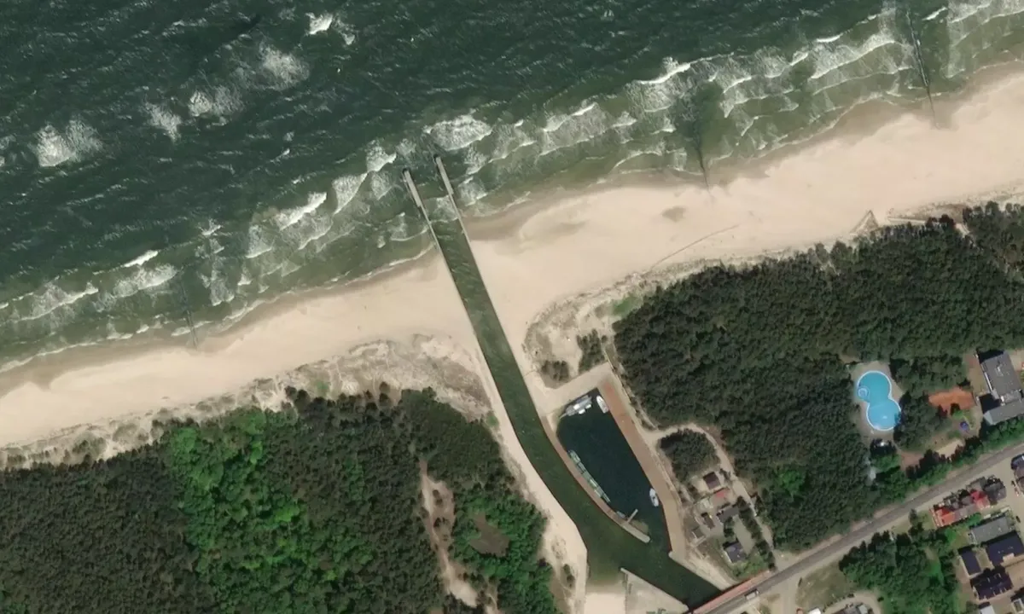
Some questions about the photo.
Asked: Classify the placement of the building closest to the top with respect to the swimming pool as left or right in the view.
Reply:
on its right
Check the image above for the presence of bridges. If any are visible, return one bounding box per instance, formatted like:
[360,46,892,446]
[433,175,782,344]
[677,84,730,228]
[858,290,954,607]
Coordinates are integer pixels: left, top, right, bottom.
[688,589,738,614]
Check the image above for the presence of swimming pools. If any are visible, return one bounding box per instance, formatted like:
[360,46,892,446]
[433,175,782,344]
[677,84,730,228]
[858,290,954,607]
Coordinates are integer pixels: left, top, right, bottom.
[857,370,902,431]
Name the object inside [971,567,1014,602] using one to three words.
house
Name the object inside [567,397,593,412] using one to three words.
boat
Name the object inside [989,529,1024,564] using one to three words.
house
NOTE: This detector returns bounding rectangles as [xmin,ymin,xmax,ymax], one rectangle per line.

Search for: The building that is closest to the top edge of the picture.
[984,355,1024,431]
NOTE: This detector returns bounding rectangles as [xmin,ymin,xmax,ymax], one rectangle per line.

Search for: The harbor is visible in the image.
[541,364,686,551]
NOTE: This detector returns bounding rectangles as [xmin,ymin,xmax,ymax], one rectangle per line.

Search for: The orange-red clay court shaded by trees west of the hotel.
[928,388,976,413]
